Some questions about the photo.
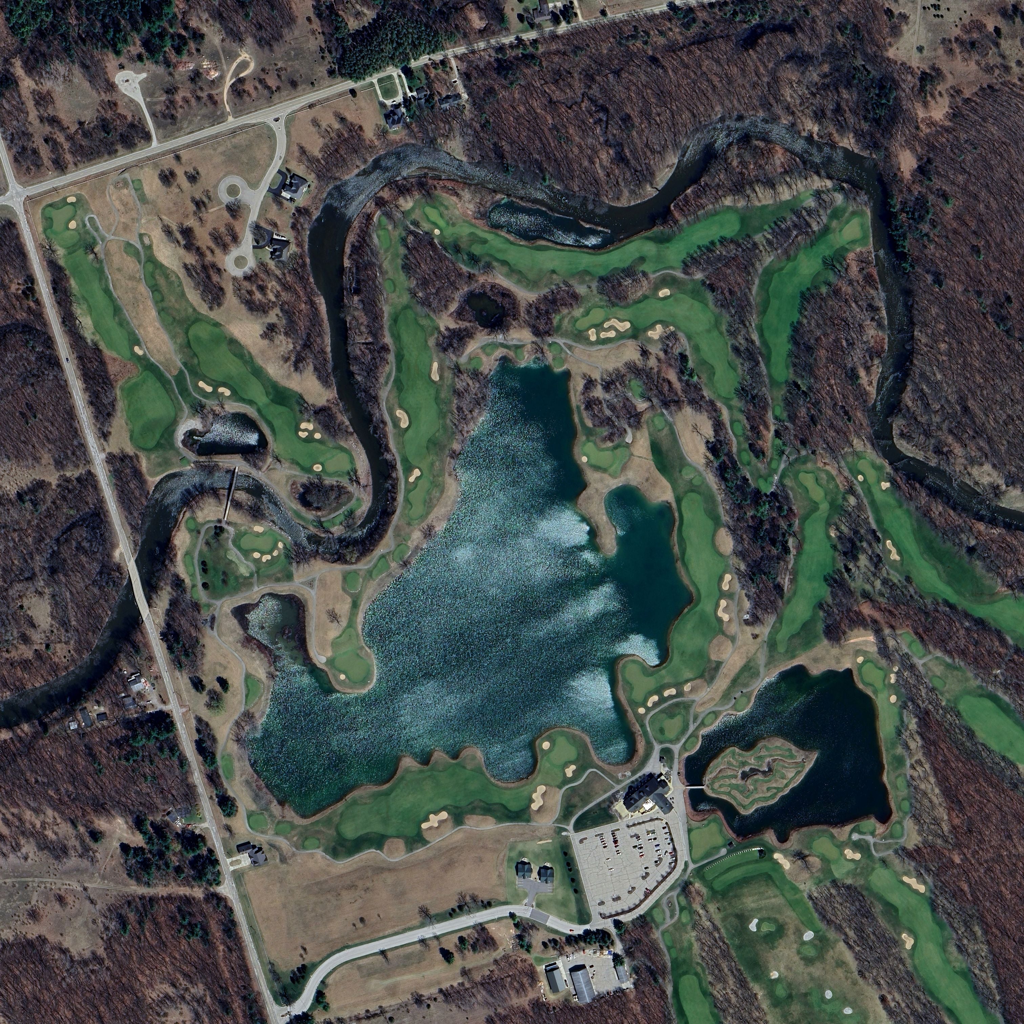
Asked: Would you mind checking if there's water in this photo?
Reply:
Yes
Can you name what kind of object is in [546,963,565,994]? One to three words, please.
barn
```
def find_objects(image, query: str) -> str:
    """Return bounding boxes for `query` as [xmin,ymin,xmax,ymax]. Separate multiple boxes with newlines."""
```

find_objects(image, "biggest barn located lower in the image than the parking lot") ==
[571,967,596,1005]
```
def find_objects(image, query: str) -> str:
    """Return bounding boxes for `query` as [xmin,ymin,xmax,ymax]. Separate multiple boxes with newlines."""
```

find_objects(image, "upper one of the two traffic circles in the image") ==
[218,176,249,206]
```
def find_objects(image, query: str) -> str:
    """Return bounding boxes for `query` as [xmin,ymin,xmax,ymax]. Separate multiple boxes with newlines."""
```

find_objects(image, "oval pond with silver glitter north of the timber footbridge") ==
[194,412,267,455]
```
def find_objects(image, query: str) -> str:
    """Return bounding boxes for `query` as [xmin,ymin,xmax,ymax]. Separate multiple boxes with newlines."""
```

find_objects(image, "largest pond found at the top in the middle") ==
[488,198,614,249]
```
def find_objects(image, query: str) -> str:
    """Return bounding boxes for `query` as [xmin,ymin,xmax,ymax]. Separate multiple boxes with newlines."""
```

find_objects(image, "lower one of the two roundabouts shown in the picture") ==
[226,248,256,277]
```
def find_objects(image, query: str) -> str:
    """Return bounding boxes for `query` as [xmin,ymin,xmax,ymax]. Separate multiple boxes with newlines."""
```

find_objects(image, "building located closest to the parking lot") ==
[621,775,674,815]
